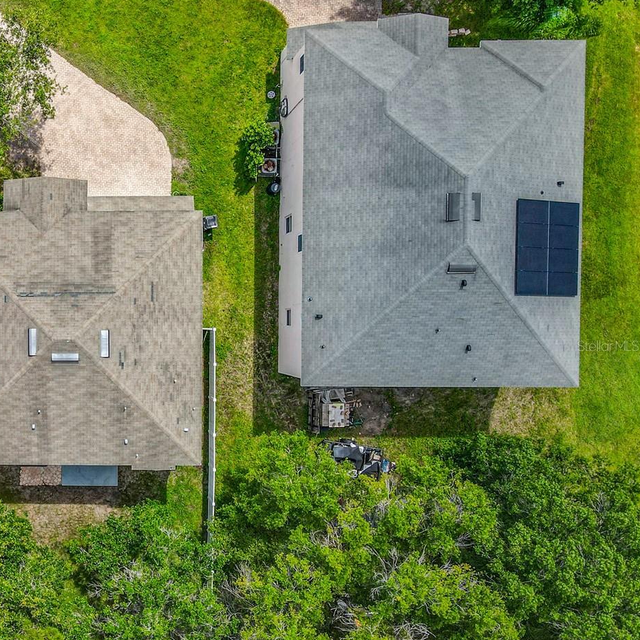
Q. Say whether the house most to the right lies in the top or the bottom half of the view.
top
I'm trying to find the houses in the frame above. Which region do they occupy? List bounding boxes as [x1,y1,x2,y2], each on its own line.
[280,11,583,387]
[0,176,202,470]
